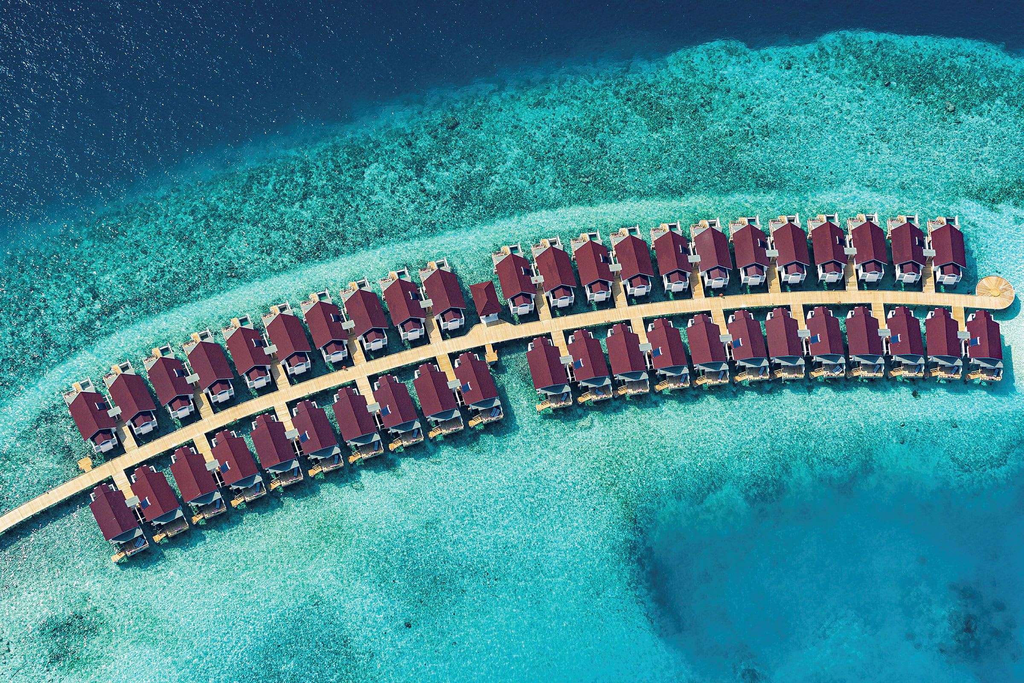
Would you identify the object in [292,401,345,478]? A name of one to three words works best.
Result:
house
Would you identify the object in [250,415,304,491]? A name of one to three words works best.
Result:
house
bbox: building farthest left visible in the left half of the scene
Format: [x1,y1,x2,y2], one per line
[89,485,149,563]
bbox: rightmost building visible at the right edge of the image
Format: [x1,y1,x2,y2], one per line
[965,310,1004,385]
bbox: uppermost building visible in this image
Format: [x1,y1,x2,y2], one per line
[470,280,501,323]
